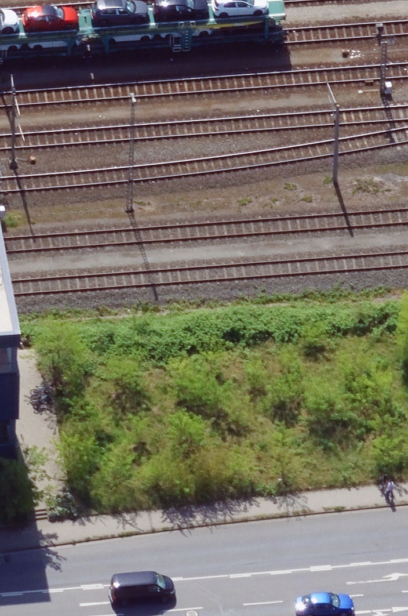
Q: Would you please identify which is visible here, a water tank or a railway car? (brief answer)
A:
railway car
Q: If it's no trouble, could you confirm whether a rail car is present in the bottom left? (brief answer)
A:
No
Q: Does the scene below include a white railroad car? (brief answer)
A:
No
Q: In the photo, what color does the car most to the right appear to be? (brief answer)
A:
blue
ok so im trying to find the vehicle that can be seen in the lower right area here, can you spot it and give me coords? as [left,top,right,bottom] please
[294,590,356,616]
